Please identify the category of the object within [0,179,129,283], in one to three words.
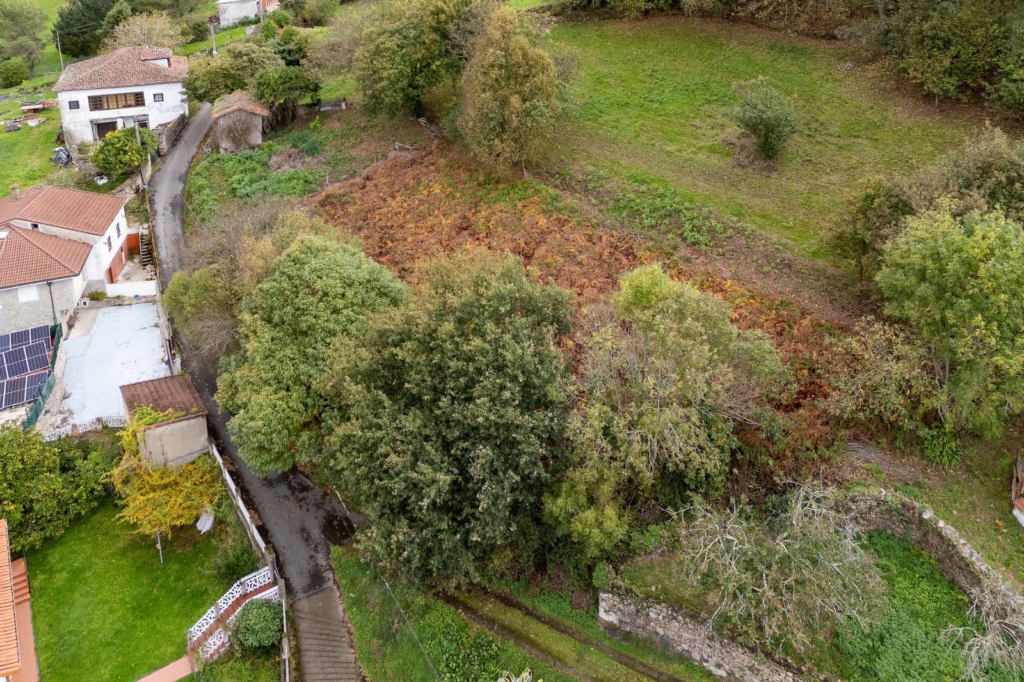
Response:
house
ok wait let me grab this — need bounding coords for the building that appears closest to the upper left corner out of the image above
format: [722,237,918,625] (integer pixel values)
[51,42,192,152]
